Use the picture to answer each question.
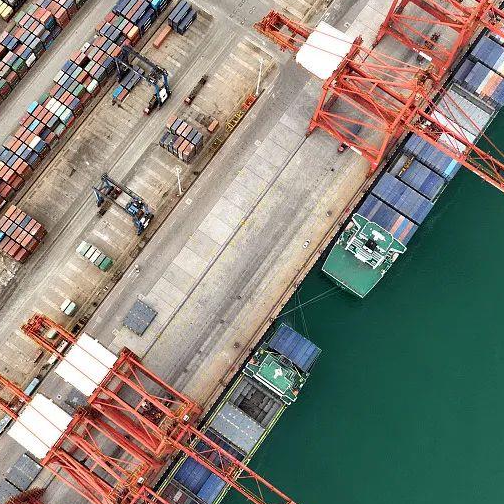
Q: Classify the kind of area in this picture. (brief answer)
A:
port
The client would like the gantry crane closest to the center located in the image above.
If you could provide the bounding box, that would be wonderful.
[91,175,154,236]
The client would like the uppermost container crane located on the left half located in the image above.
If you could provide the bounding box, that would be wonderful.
[112,45,172,109]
